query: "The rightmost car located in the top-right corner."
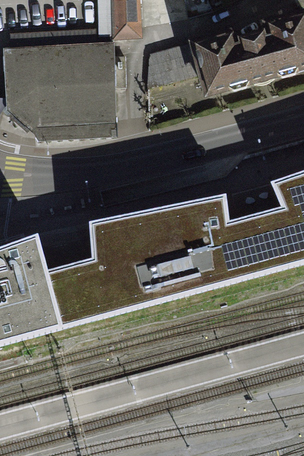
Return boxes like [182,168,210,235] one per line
[240,21,260,34]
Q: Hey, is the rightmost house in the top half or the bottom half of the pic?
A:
top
